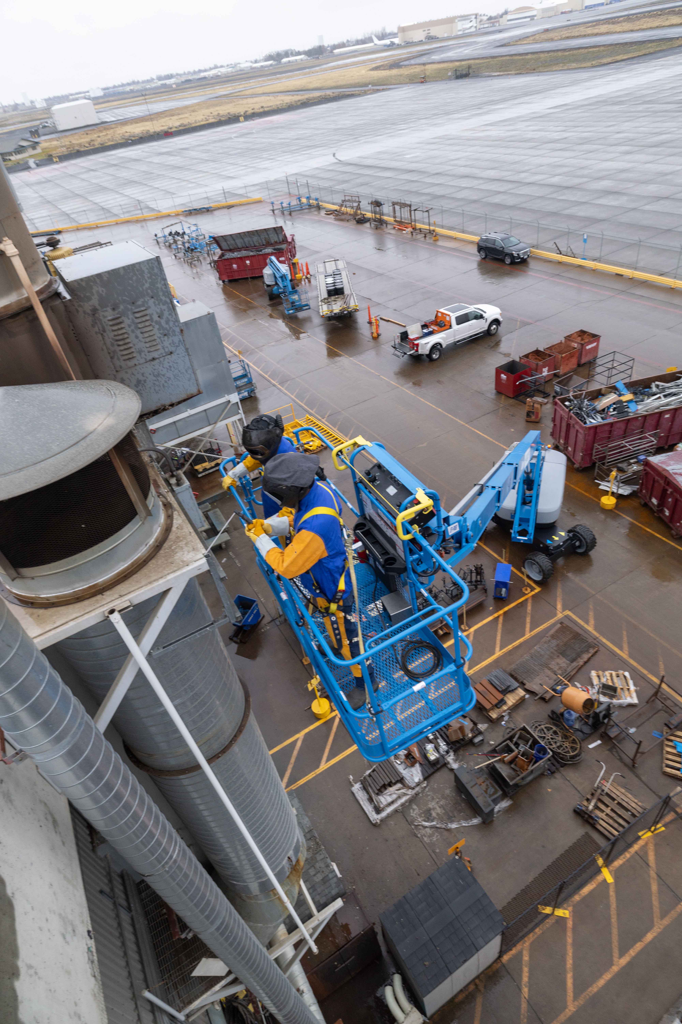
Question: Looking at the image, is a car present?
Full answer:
Yes, a car can be made out from above.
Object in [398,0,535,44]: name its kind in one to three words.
hangar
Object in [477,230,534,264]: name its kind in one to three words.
car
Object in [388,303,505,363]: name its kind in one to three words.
truck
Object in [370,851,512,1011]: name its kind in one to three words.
shed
